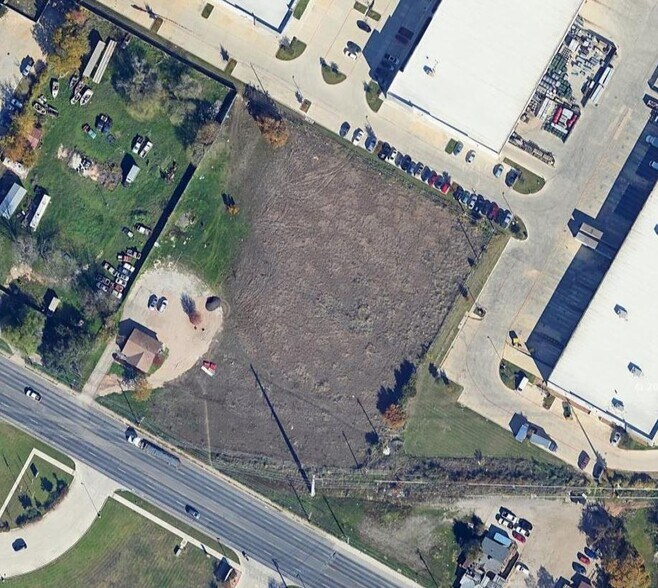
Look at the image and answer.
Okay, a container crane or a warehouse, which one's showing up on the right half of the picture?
warehouse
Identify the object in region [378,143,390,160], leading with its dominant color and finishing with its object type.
black vehicle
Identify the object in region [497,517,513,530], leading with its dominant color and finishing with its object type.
white vehicle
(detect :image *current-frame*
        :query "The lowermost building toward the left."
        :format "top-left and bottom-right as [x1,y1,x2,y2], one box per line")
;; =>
[123,329,162,373]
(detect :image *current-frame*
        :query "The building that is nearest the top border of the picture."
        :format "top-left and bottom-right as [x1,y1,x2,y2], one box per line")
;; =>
[209,0,303,40]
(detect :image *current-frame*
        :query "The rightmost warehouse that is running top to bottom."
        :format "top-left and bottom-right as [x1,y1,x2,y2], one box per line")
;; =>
[546,189,658,445]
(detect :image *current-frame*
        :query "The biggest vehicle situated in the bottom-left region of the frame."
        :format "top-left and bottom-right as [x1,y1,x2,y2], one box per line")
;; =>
[130,436,184,470]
